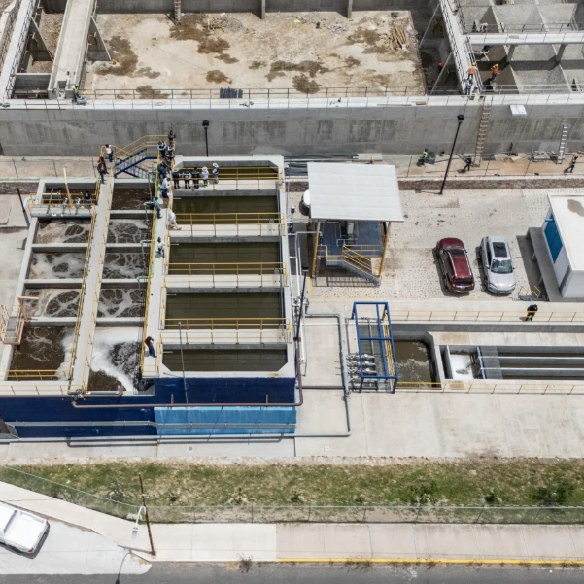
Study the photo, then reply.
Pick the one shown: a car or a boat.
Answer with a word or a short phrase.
car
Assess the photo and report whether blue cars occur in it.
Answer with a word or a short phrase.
No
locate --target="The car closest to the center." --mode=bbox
[438,238,478,298]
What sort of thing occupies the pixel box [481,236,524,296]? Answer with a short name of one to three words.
car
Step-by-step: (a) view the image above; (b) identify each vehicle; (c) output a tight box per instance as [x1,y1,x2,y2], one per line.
[0,507,48,560]
[438,238,478,298]
[481,236,524,296]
